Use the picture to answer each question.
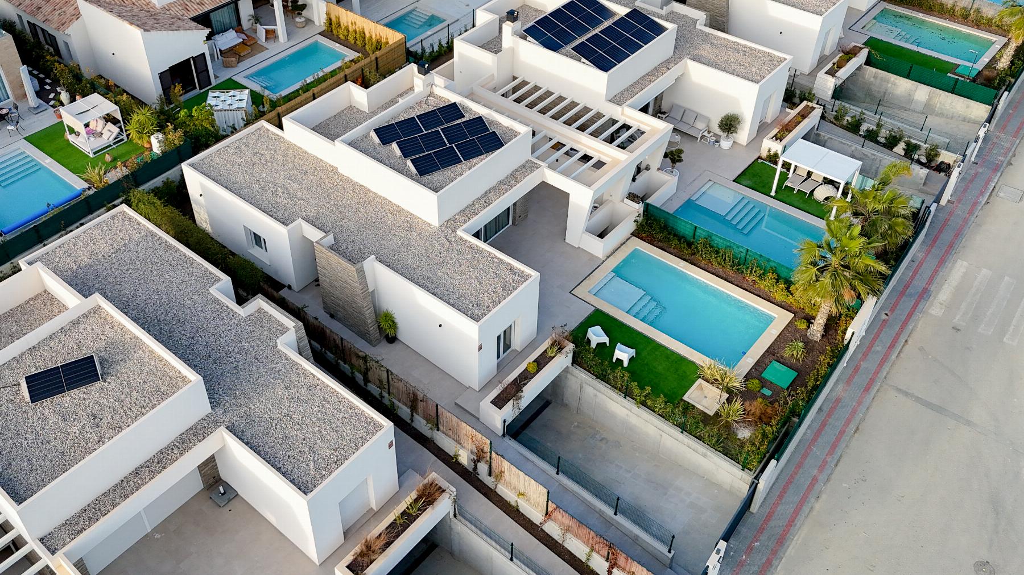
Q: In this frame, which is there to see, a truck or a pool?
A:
pool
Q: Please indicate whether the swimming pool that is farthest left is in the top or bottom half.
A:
top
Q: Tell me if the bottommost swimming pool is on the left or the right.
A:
right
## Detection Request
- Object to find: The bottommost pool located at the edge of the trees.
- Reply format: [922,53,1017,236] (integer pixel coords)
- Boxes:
[568,235,794,384]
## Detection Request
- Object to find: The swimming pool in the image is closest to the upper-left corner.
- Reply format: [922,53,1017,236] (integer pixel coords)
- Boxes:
[0,131,85,217]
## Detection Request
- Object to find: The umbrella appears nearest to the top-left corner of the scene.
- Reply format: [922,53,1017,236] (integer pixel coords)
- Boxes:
[15,57,47,113]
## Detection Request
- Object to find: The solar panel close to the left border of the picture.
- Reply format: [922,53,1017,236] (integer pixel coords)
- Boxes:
[22,350,104,405]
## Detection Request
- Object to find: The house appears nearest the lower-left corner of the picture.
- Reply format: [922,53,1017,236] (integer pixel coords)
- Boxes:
[0,205,400,575]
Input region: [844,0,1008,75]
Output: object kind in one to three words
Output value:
swimming pool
